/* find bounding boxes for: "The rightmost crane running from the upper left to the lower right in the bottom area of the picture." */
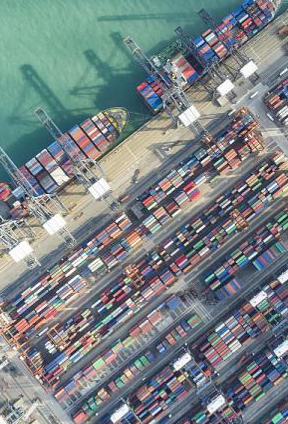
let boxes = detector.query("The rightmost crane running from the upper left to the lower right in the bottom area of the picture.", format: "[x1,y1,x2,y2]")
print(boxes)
[245,283,287,329]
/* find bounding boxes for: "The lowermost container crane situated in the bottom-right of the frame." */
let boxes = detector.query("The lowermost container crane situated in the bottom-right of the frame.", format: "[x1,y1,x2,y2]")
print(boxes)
[206,382,246,424]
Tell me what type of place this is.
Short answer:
port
